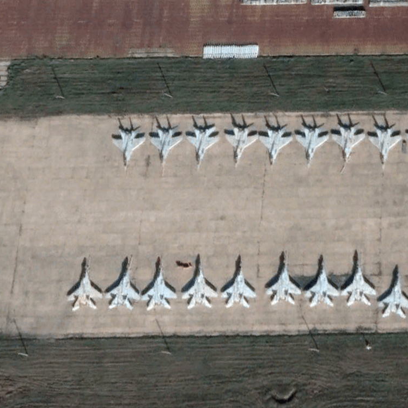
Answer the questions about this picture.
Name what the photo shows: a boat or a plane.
plane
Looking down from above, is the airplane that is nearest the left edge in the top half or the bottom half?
bottom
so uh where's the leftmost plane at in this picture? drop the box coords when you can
[68,258,103,312]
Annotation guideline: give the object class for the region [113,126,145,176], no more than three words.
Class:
airplane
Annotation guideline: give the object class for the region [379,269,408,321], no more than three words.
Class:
airplane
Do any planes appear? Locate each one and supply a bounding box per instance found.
[226,121,258,174]
[222,256,256,311]
[107,260,140,313]
[368,123,402,174]
[267,255,301,307]
[142,260,177,312]
[150,126,182,177]
[113,126,145,176]
[341,256,376,308]
[305,255,340,308]
[259,123,292,174]
[333,121,365,172]
[186,124,219,174]
[183,257,217,311]
[68,258,103,312]
[379,269,408,321]
[296,122,328,173]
